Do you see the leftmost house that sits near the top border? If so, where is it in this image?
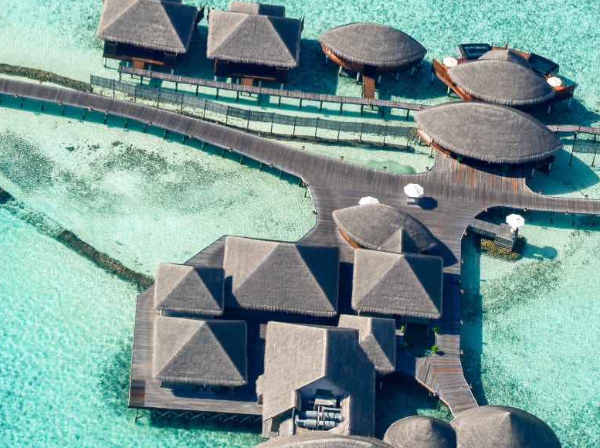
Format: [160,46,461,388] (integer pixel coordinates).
[94,0,203,71]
